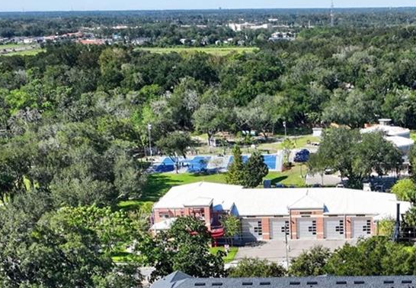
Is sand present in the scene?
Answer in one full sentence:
No, the scene doesn't show any sand.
